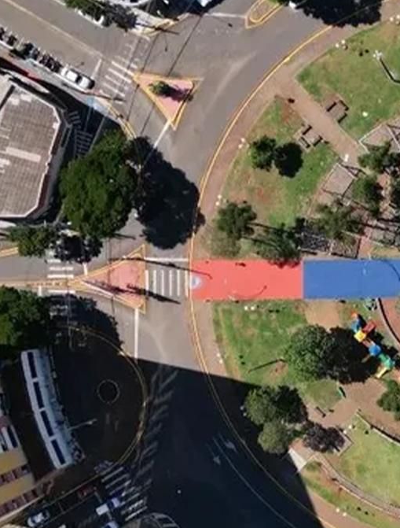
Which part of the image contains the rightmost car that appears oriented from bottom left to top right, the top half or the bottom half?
bottom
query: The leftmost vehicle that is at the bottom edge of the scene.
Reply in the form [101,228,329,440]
[22,507,53,528]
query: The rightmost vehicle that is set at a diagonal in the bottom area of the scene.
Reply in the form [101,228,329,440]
[92,496,123,519]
